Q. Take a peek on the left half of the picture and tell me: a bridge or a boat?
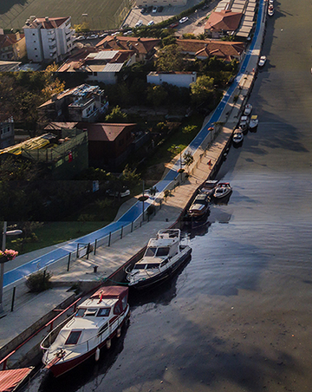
boat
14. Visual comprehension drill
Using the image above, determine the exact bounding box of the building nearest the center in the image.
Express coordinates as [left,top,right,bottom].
[77,123,136,165]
